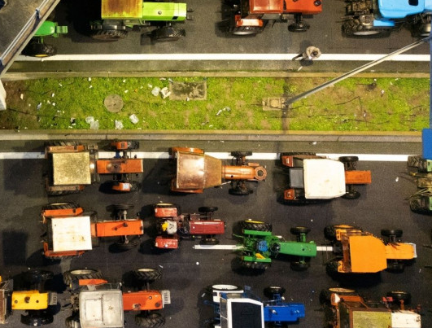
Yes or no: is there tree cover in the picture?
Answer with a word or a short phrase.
No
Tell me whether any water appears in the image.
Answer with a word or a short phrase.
No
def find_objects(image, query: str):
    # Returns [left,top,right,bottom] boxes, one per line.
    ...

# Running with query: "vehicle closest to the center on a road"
[156,145,270,200]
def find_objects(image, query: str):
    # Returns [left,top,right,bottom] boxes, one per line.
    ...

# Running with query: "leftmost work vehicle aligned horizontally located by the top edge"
[80,0,192,45]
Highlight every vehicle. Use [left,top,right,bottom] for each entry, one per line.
[225,219,317,278]
[30,199,147,264]
[309,220,415,282]
[34,136,147,197]
[80,0,192,45]
[391,150,432,218]
[0,265,58,328]
[156,145,270,200]
[48,263,169,328]
[304,279,422,328]
[213,0,323,37]
[265,148,371,207]
[190,274,305,328]
[329,0,432,42]
[146,201,228,255]
[13,8,67,61]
